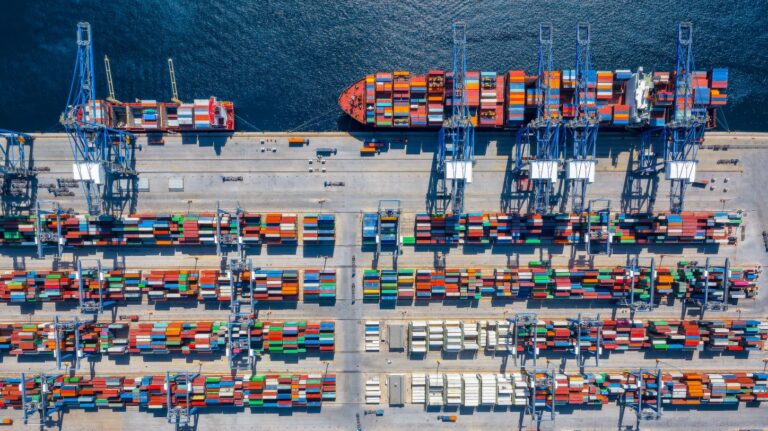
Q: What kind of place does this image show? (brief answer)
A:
port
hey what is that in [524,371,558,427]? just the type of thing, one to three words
crane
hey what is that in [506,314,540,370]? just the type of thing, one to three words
crane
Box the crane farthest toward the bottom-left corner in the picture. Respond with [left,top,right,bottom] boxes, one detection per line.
[20,371,63,427]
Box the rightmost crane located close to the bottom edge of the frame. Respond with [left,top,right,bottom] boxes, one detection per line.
[624,371,664,427]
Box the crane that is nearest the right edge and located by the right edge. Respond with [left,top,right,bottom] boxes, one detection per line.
[688,259,731,314]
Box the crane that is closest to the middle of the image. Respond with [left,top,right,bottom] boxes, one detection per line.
[374,200,404,256]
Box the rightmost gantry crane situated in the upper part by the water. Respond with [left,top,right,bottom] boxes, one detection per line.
[629,22,712,215]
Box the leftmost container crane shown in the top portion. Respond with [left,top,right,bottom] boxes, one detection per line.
[0,129,35,172]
